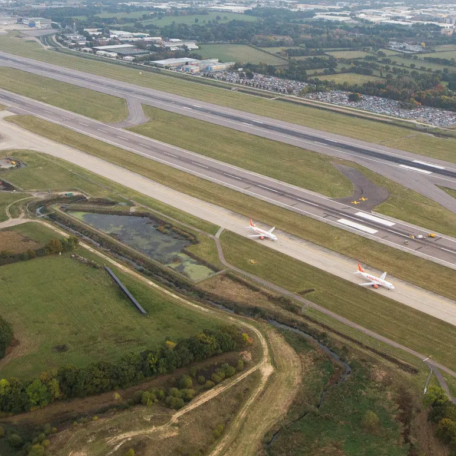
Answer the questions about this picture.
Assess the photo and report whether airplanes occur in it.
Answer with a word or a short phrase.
Yes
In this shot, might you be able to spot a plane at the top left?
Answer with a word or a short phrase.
No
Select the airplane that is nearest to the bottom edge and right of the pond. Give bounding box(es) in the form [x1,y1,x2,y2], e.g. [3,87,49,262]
[356,261,394,286]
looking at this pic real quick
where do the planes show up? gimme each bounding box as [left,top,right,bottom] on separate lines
[356,261,394,286]
[242,215,275,236]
